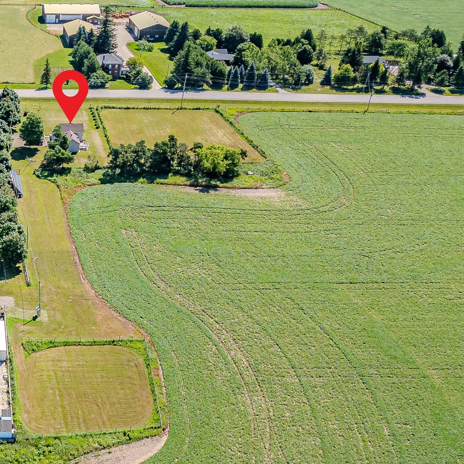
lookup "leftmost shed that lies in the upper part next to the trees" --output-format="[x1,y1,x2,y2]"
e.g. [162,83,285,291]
[11,160,32,197]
